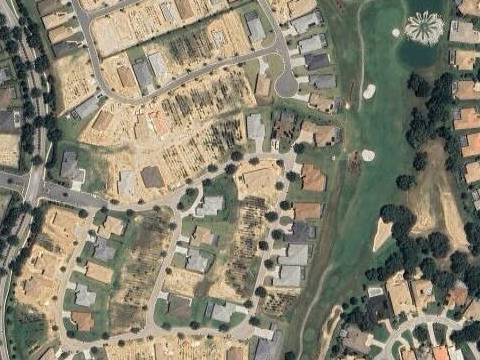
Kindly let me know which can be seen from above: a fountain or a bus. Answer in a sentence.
I can see a fountain in this picture.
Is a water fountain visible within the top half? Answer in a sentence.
Yes, the scene does show a water fountain within the top half.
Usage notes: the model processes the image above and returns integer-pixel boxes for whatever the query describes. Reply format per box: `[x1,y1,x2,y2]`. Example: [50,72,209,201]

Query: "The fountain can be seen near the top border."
[403,4,446,49]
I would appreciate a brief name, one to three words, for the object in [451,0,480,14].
house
